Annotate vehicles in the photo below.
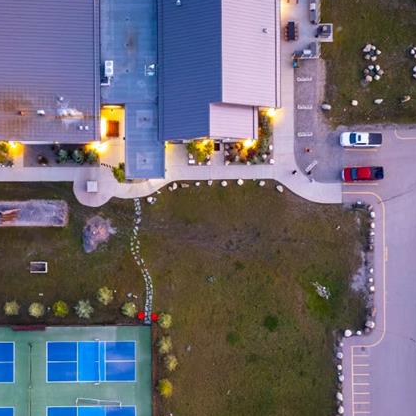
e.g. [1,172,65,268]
[339,131,381,148]
[341,166,383,182]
